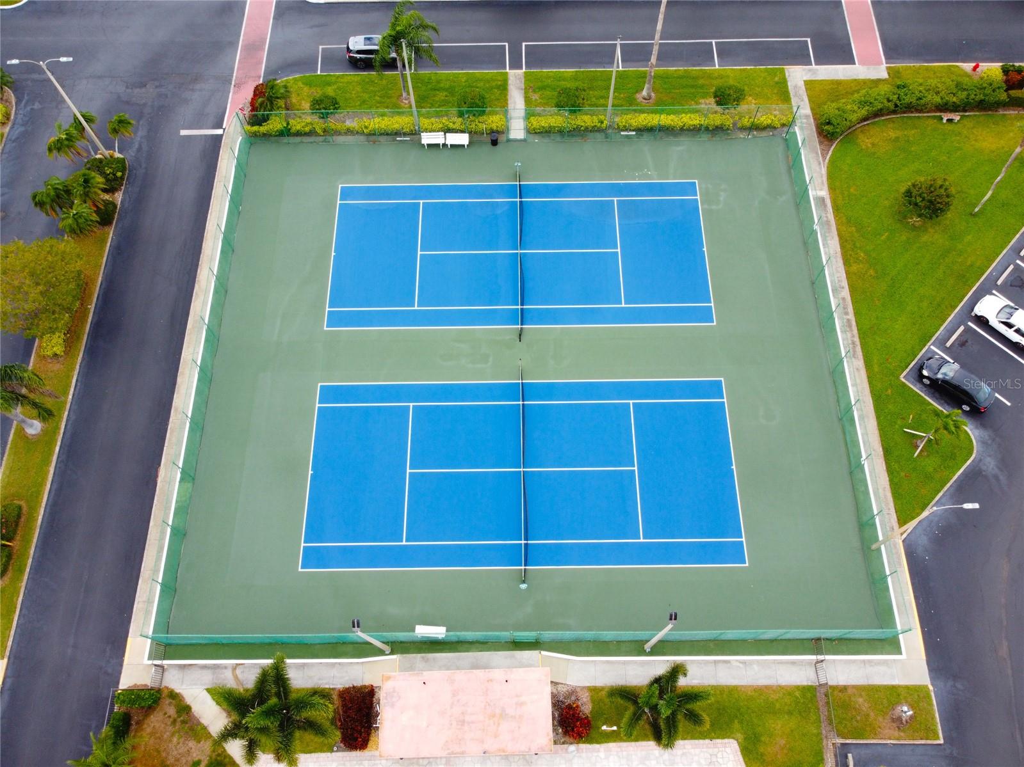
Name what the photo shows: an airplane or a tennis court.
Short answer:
tennis court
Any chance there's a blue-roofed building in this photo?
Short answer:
No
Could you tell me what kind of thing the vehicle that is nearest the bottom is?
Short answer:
automobile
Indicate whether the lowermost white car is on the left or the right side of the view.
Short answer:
right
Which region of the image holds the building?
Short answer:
bottom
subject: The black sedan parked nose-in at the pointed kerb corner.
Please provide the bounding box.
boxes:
[919,352,1002,412]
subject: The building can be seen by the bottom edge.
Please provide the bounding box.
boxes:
[379,666,554,762]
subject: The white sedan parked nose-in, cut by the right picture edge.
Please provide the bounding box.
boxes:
[969,294,1024,352]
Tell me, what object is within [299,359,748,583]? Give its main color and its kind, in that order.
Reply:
blue tennis court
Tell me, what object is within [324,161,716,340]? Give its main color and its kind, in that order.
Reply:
blue tennis court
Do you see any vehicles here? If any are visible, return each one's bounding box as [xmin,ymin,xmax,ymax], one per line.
[919,352,1002,412]
[346,33,398,68]
[969,294,1024,352]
